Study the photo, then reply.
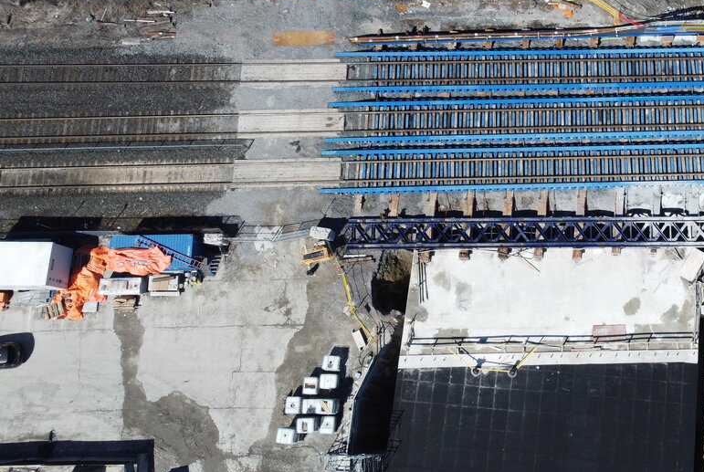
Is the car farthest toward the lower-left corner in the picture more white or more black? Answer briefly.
black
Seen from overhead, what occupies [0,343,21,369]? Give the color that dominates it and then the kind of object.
black car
